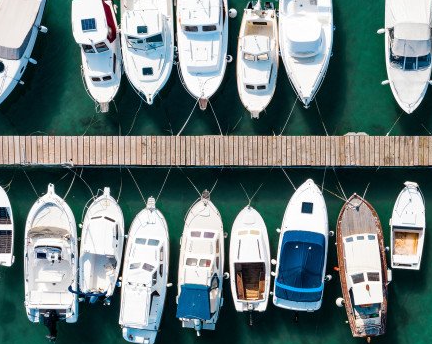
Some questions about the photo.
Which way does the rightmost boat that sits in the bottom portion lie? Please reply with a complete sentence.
Seen from above, the rightmost boat that sits in the bottom portion lies from top to bottom.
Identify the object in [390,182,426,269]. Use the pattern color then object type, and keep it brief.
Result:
white boat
